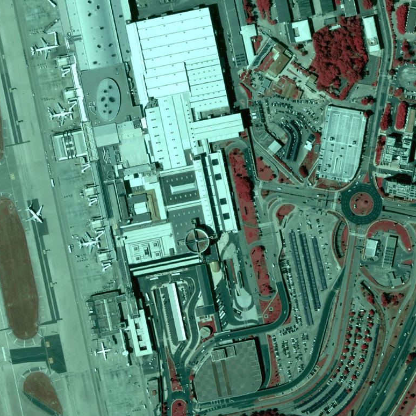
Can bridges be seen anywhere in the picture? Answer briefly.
Yes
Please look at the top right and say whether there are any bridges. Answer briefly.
No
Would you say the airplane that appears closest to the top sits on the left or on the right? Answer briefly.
left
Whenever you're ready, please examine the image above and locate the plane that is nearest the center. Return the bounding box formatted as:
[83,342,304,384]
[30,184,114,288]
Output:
[79,233,100,255]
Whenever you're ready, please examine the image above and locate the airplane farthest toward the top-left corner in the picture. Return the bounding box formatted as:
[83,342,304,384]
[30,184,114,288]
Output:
[31,38,59,60]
